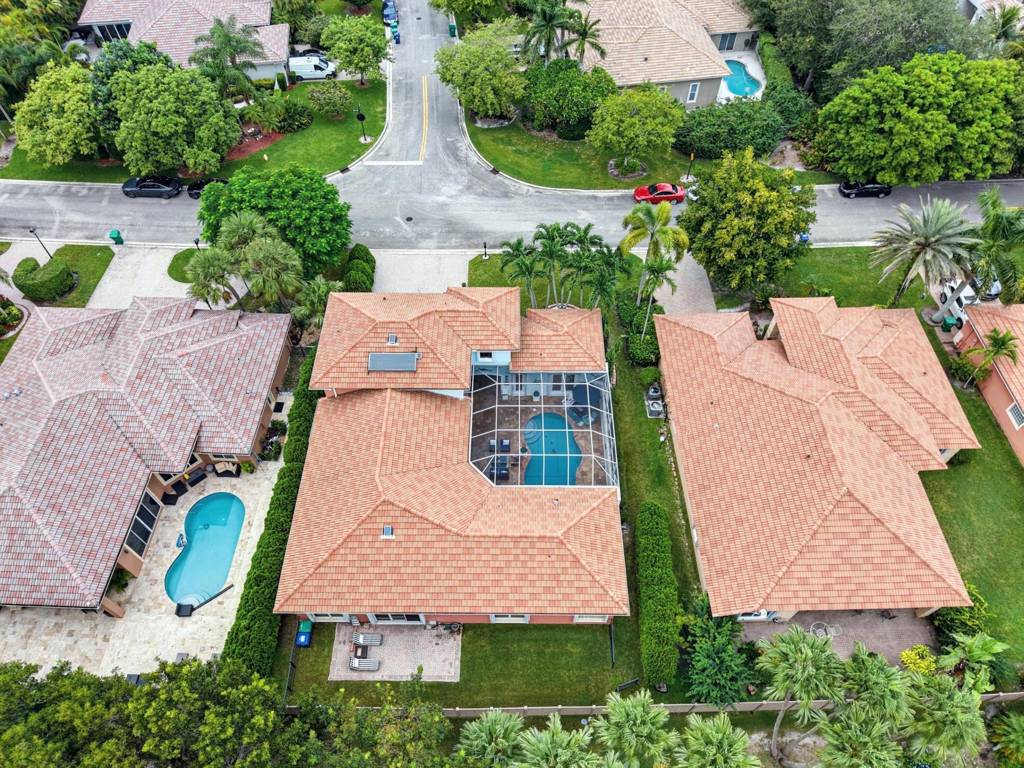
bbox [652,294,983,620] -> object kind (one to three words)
house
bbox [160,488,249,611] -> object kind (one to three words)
swimming pool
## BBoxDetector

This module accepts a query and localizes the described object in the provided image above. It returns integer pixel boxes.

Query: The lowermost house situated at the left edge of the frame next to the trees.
[0,294,292,619]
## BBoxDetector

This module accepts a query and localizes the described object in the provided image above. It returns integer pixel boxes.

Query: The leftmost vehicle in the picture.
[120,175,177,198]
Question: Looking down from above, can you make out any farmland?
No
